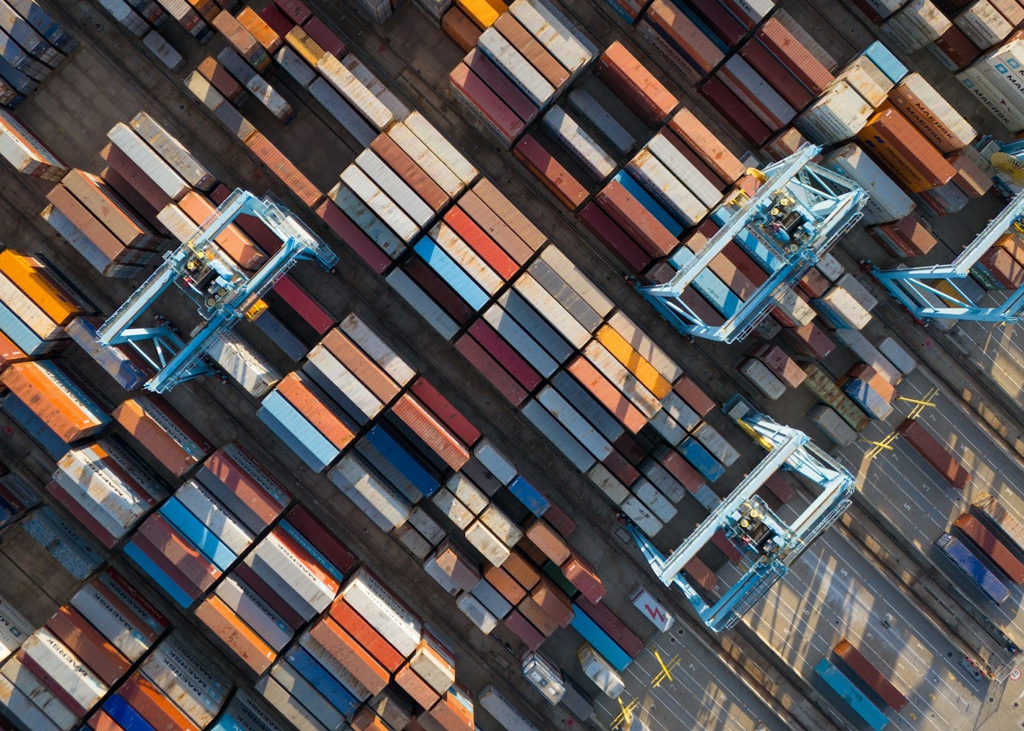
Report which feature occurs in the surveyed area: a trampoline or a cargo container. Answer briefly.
cargo container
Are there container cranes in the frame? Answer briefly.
Yes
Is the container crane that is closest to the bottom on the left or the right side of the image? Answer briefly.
right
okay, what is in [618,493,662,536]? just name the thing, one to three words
shipping container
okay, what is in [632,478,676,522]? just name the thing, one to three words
shipping container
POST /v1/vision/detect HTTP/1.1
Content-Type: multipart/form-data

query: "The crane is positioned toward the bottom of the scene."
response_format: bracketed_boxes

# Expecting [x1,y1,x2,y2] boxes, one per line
[619,398,860,631]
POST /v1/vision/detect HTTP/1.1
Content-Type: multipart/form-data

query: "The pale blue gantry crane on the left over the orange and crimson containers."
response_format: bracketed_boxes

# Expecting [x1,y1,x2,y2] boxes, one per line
[94,177,346,392]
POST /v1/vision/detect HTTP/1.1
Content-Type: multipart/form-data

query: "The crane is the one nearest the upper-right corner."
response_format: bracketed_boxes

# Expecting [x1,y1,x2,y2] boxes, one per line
[978,129,1024,176]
